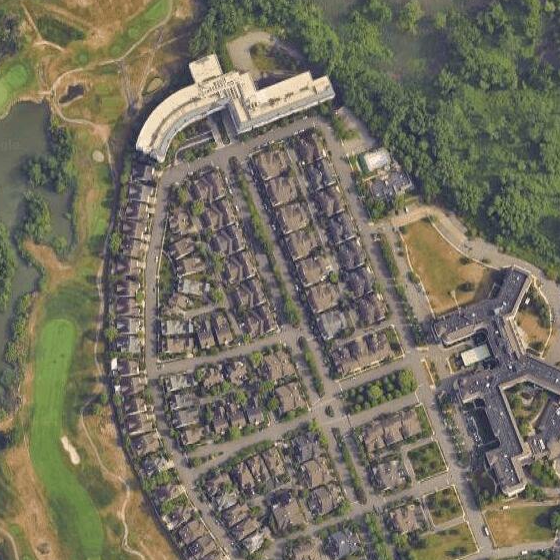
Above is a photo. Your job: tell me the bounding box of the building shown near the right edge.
[433,267,560,493]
